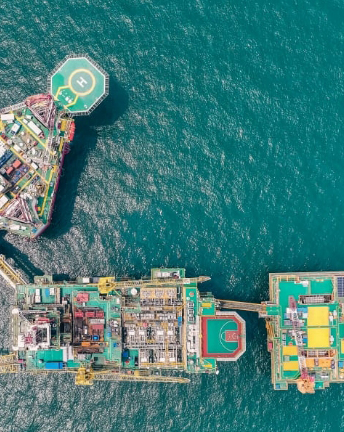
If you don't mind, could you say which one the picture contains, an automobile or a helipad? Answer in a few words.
helipad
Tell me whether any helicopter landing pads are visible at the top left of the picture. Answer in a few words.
Yes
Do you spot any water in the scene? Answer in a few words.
Yes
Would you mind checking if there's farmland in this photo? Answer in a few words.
No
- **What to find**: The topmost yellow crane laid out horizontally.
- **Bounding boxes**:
[95,276,211,292]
